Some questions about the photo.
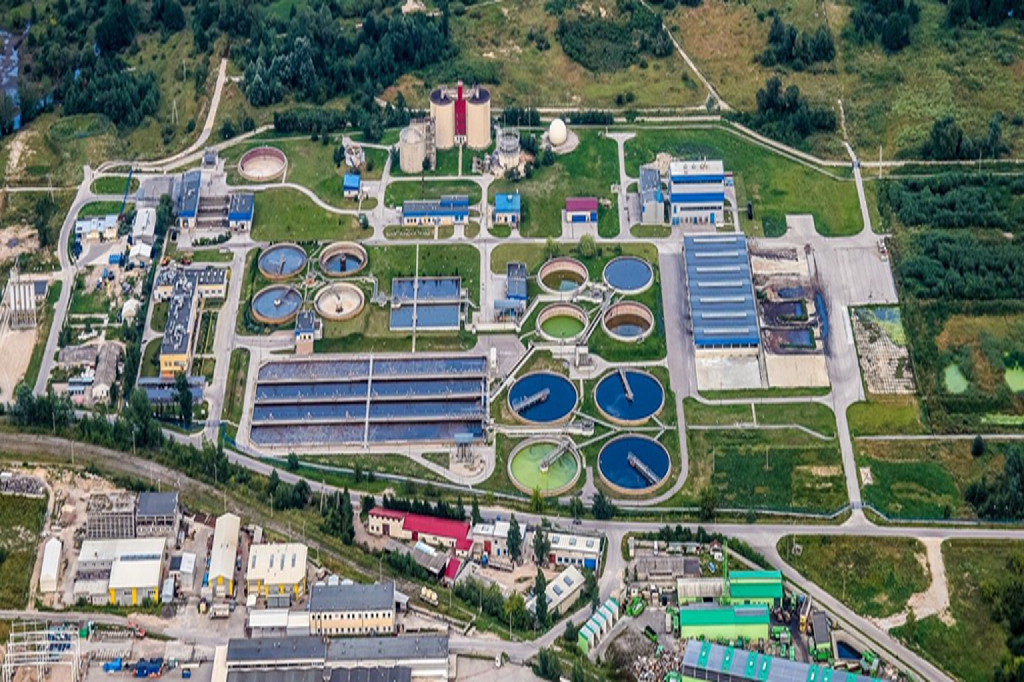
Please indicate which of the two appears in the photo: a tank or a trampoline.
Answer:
tank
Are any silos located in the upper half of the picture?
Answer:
Yes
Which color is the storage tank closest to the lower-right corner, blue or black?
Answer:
blue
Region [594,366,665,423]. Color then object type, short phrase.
blue storage tank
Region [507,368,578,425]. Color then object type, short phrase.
blue storage tank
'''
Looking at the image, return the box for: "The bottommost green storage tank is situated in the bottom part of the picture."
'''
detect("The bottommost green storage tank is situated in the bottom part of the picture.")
[506,433,581,496]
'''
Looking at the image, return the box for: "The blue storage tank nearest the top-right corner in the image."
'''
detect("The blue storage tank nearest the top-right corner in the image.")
[602,254,654,294]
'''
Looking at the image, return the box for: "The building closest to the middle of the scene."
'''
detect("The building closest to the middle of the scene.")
[506,262,526,310]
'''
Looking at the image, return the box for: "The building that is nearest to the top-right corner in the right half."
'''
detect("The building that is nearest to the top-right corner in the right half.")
[666,160,732,225]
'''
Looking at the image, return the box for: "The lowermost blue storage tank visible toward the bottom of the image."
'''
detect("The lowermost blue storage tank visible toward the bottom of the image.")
[597,431,672,493]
